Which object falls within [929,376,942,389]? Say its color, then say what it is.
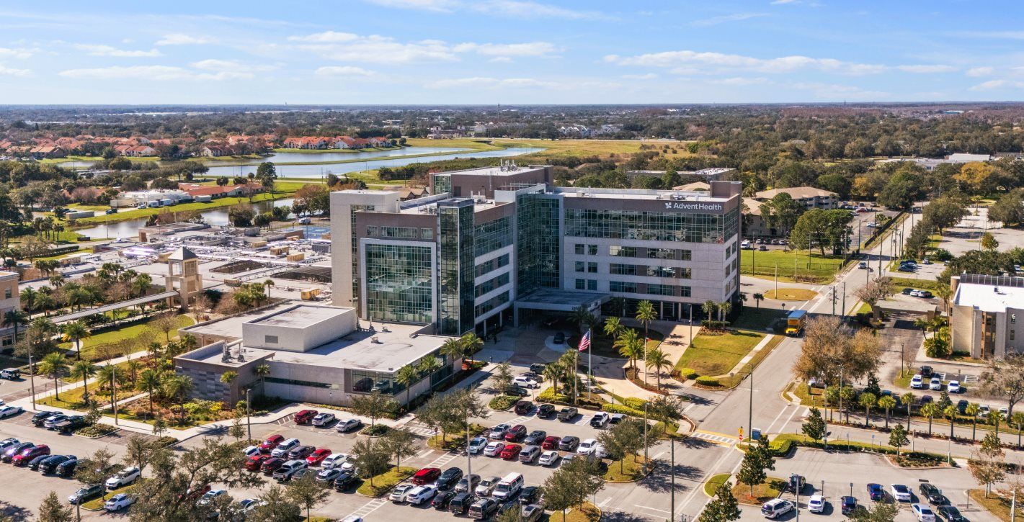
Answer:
white vehicle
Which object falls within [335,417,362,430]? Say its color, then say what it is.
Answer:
gray vehicle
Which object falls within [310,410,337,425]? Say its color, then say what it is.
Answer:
gray car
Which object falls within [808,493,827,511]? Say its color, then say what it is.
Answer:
white car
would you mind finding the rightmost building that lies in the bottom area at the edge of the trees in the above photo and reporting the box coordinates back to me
[952,272,1024,363]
